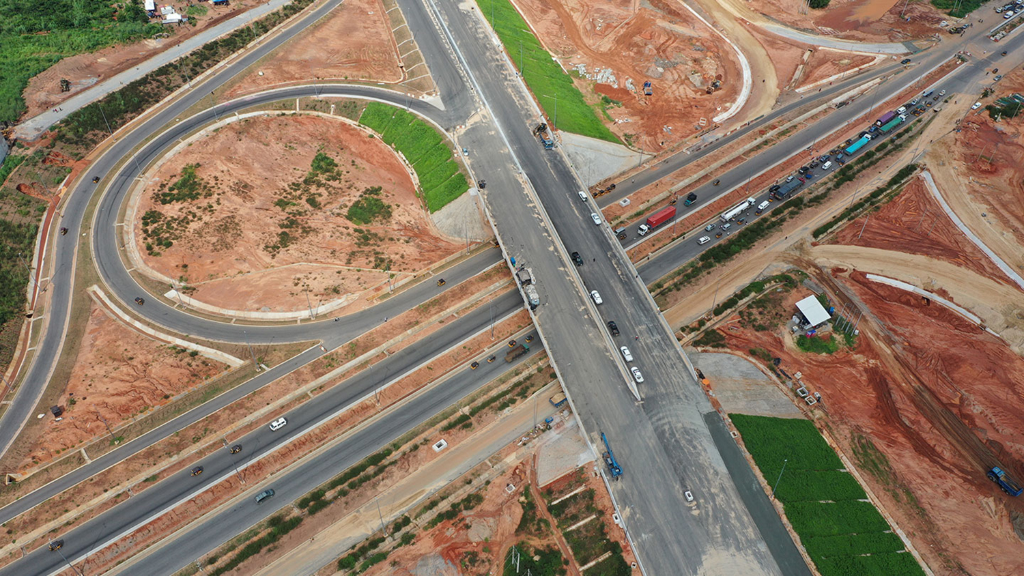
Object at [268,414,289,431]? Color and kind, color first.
white vehicle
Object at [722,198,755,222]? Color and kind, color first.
white truck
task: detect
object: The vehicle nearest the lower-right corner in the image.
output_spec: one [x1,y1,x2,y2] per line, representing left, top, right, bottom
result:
[985,464,1024,497]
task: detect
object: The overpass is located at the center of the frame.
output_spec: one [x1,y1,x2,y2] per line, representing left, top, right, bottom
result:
[429,0,699,576]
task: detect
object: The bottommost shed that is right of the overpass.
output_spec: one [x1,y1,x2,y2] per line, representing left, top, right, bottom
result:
[793,295,831,333]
